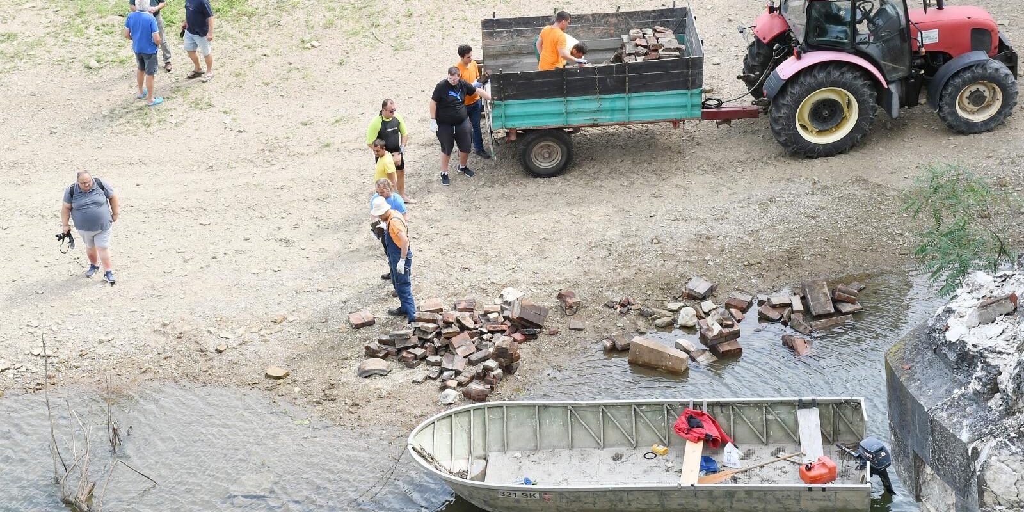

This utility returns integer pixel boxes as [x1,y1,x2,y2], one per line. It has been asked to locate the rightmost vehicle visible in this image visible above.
[718,0,1016,159]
